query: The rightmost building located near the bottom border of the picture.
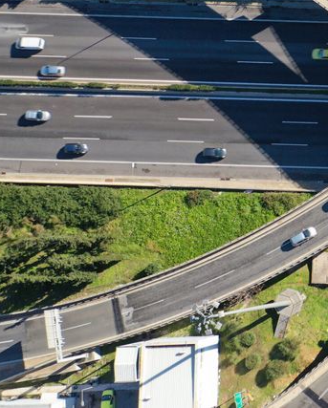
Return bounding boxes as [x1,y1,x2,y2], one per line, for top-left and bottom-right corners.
[139,332,233,408]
